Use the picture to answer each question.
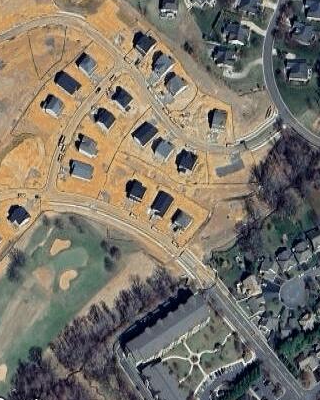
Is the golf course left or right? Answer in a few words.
left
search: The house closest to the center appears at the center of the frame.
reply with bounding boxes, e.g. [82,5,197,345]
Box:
[151,190,175,218]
